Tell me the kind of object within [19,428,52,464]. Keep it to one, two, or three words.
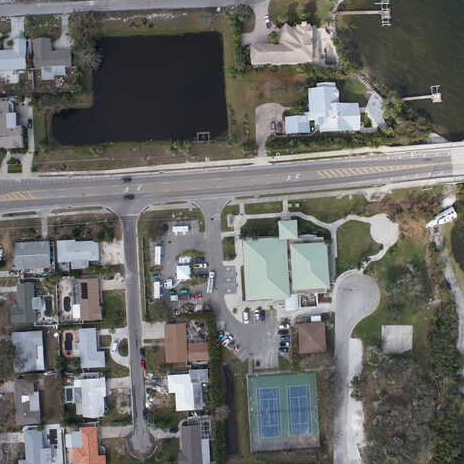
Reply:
house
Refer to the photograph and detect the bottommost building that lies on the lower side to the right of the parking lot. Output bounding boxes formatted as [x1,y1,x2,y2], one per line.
[297,321,326,354]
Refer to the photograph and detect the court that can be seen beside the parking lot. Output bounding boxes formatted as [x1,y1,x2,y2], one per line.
[248,372,320,453]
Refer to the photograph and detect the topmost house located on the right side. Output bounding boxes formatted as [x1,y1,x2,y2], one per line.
[250,23,313,65]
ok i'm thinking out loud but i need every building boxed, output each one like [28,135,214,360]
[75,377,107,417]
[16,379,40,425]
[73,279,102,320]
[297,321,326,354]
[250,23,313,65]
[65,426,107,464]
[181,425,210,464]
[168,369,208,410]
[57,241,99,270]
[166,323,208,363]
[19,428,52,464]
[0,101,24,148]
[15,241,51,269]
[33,38,73,80]
[80,328,106,368]
[10,283,43,323]
[243,238,290,300]
[0,38,27,83]
[291,234,329,293]
[12,331,45,372]
[309,82,361,132]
